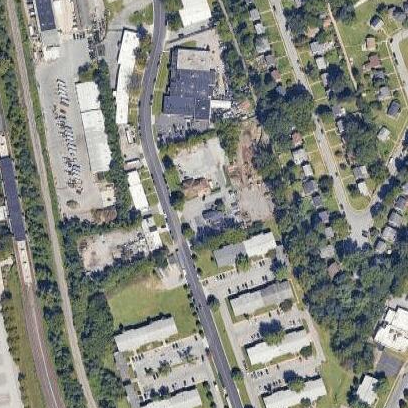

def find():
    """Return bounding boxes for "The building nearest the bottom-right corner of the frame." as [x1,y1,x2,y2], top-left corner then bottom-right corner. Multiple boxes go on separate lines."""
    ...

[357,376,378,406]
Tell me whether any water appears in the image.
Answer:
No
